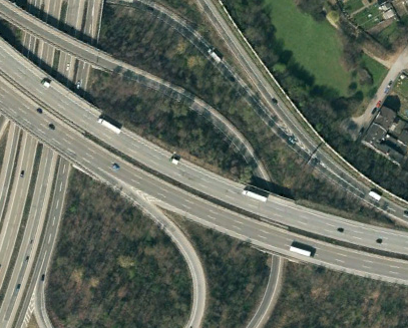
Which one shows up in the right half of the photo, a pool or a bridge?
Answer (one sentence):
What appears in the right half of the photo is a bridge.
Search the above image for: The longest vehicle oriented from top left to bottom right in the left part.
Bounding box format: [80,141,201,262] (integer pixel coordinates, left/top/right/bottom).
[98,118,122,134]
